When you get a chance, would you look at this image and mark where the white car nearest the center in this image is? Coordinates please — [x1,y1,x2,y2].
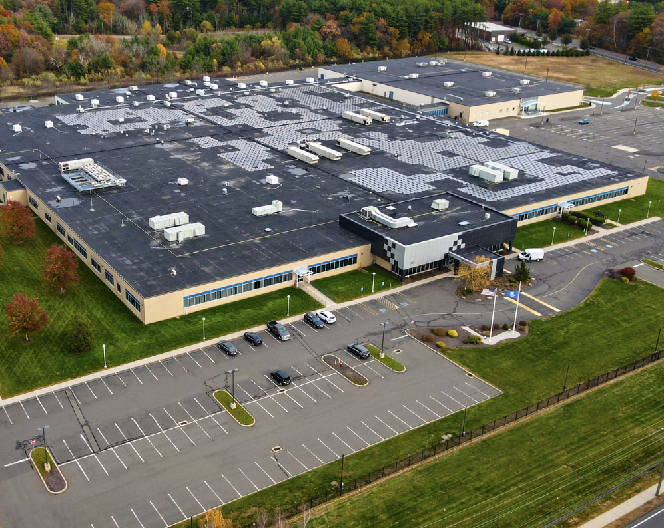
[316,308,338,322]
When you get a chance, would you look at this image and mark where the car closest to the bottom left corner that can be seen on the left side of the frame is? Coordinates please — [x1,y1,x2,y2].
[217,339,238,354]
